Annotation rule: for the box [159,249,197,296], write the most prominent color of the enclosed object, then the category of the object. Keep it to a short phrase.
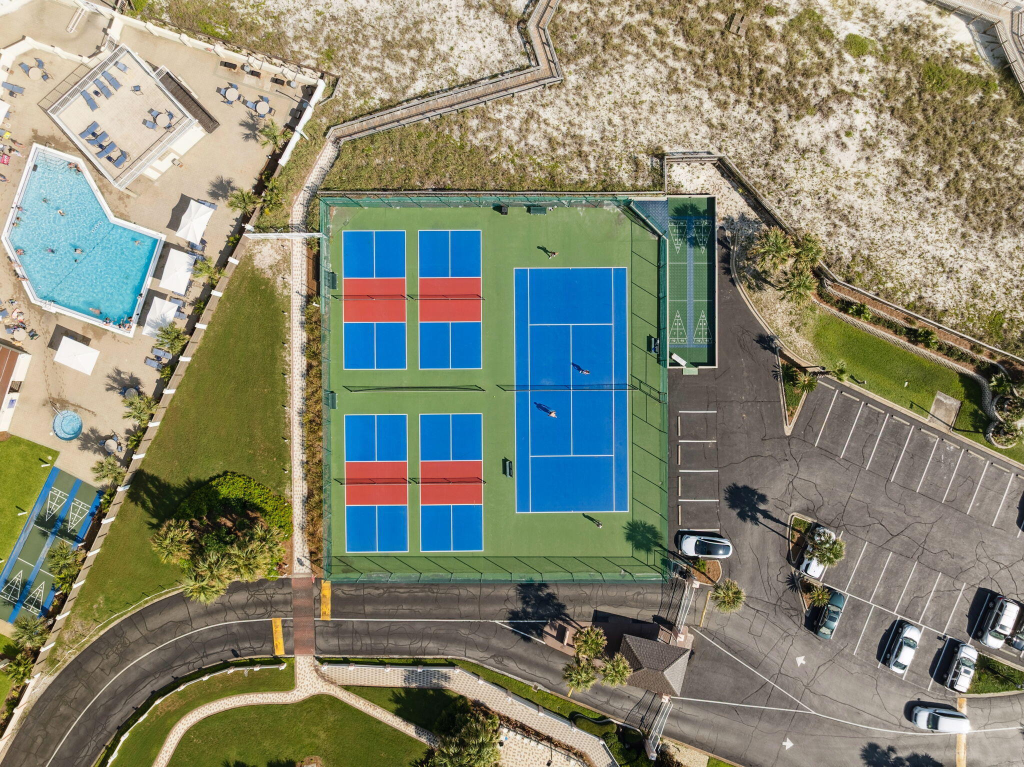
white umbrella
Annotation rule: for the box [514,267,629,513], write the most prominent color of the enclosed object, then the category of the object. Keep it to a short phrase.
blue tennis court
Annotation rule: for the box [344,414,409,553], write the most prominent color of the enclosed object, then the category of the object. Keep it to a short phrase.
blue sports court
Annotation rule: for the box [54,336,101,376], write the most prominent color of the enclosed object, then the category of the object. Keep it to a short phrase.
white umbrella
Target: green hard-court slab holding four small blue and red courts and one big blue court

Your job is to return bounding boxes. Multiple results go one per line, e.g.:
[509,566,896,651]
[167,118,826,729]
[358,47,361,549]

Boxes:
[322,200,669,578]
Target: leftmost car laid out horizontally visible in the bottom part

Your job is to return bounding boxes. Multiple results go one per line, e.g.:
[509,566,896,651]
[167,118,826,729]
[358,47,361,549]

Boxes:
[680,533,731,559]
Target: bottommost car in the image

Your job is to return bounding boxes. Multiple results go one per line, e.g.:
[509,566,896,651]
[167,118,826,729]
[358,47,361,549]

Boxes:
[911,702,969,736]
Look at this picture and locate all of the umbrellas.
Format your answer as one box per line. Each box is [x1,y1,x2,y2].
[176,200,215,245]
[54,336,101,376]
[142,297,179,337]
[0,102,11,129]
[159,249,197,296]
